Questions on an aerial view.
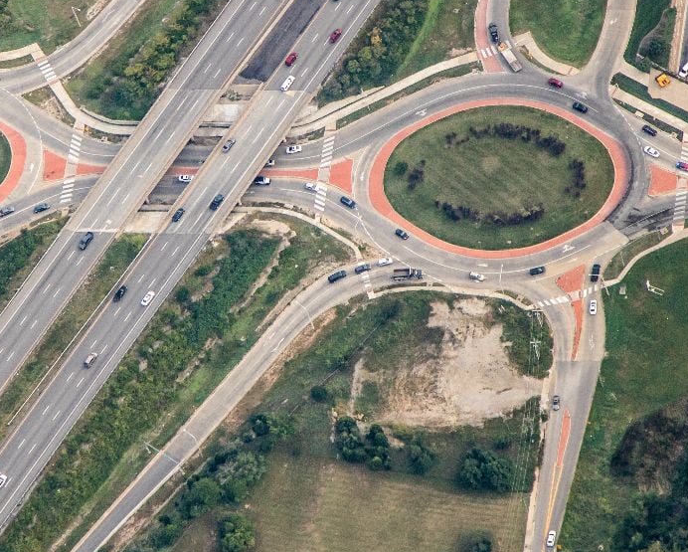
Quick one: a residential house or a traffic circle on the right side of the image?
traffic circle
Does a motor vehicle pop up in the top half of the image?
Yes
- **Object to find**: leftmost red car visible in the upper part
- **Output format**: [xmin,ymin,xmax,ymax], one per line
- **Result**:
[285,51,299,67]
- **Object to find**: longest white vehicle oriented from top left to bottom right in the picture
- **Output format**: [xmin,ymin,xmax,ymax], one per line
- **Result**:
[500,43,520,68]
